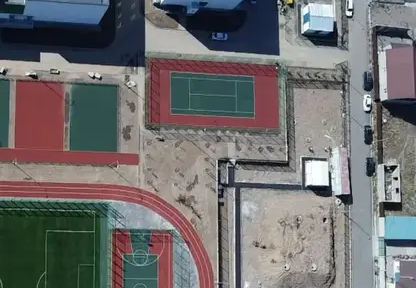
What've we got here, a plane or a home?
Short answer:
home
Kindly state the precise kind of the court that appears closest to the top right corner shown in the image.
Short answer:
tennis court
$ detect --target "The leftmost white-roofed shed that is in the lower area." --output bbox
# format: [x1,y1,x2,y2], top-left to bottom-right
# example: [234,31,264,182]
[300,159,331,187]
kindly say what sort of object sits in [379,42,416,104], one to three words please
house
